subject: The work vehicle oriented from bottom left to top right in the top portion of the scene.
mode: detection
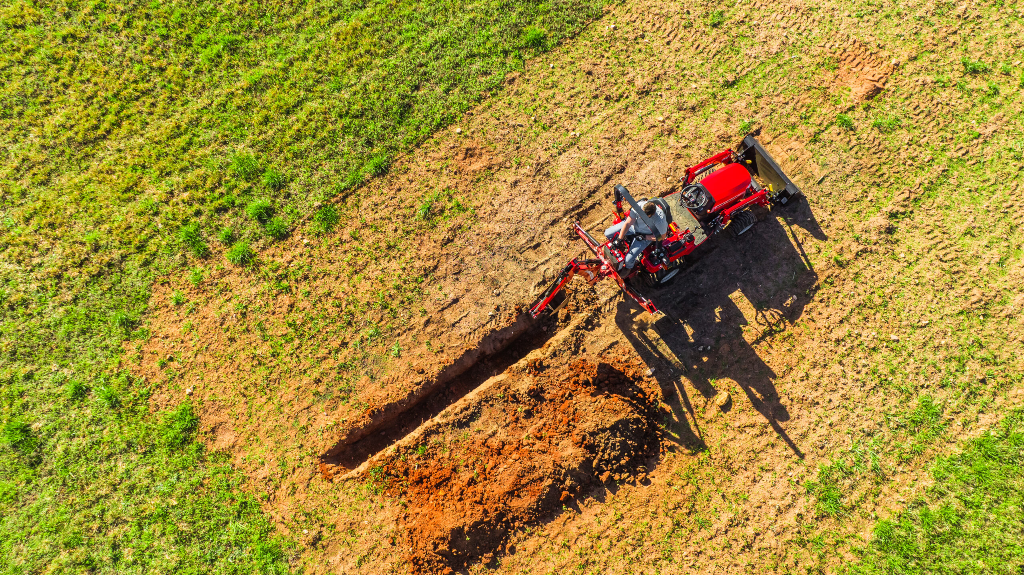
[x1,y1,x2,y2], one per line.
[523,133,808,326]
